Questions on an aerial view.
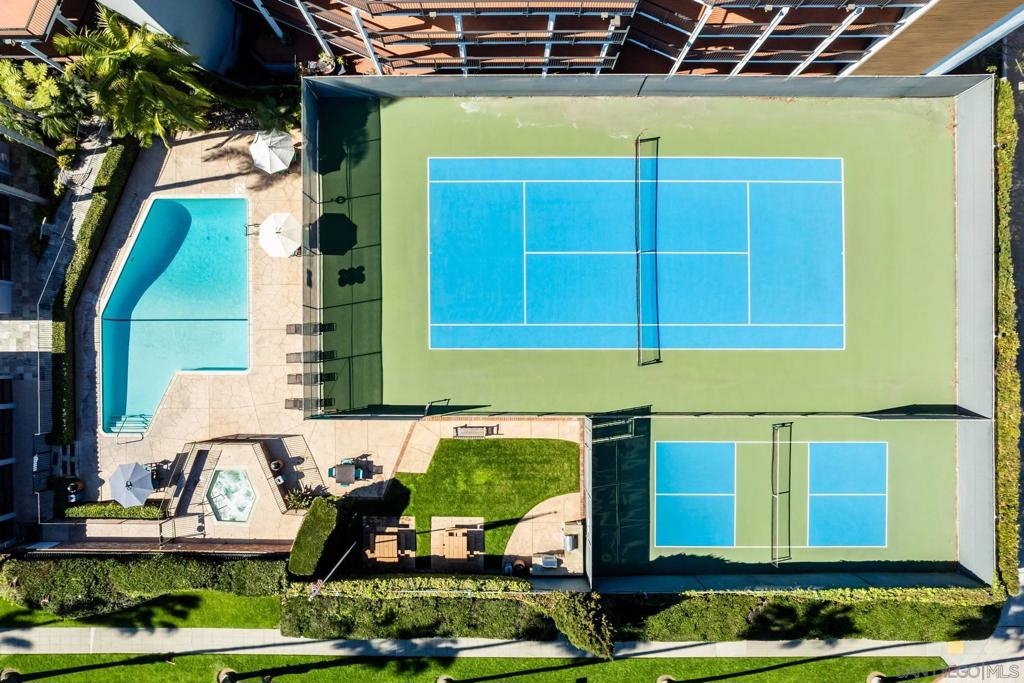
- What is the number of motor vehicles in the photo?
0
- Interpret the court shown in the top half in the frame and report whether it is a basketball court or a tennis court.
tennis court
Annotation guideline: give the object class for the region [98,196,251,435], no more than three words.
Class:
swimming pool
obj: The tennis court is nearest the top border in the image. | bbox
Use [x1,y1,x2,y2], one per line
[319,96,957,414]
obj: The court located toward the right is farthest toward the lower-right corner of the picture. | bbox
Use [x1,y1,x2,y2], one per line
[586,415,958,576]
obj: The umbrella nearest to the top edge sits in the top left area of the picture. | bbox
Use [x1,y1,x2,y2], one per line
[251,129,295,173]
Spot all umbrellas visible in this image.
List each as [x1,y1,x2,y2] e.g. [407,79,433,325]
[251,129,295,173]
[110,461,157,507]
[260,214,302,256]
